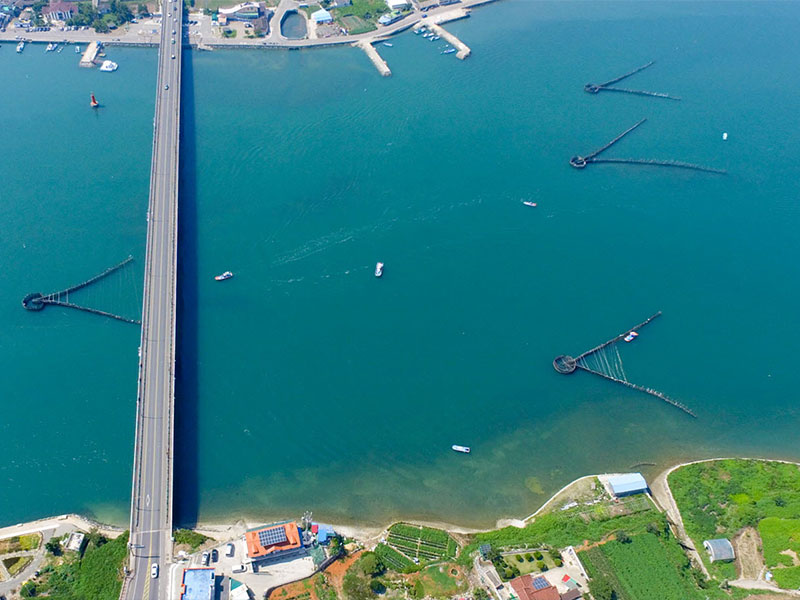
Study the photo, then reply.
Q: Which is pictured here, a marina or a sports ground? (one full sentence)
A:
This looks like a marina.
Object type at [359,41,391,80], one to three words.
pier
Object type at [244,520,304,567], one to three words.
house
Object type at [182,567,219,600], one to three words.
house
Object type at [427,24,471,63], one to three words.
pier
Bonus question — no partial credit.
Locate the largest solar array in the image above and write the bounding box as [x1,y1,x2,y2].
[259,525,289,549]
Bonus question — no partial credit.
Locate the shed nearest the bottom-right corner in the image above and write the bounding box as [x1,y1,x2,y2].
[700,539,738,563]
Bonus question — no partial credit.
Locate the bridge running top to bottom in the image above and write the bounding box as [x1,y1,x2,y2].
[129,0,184,541]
